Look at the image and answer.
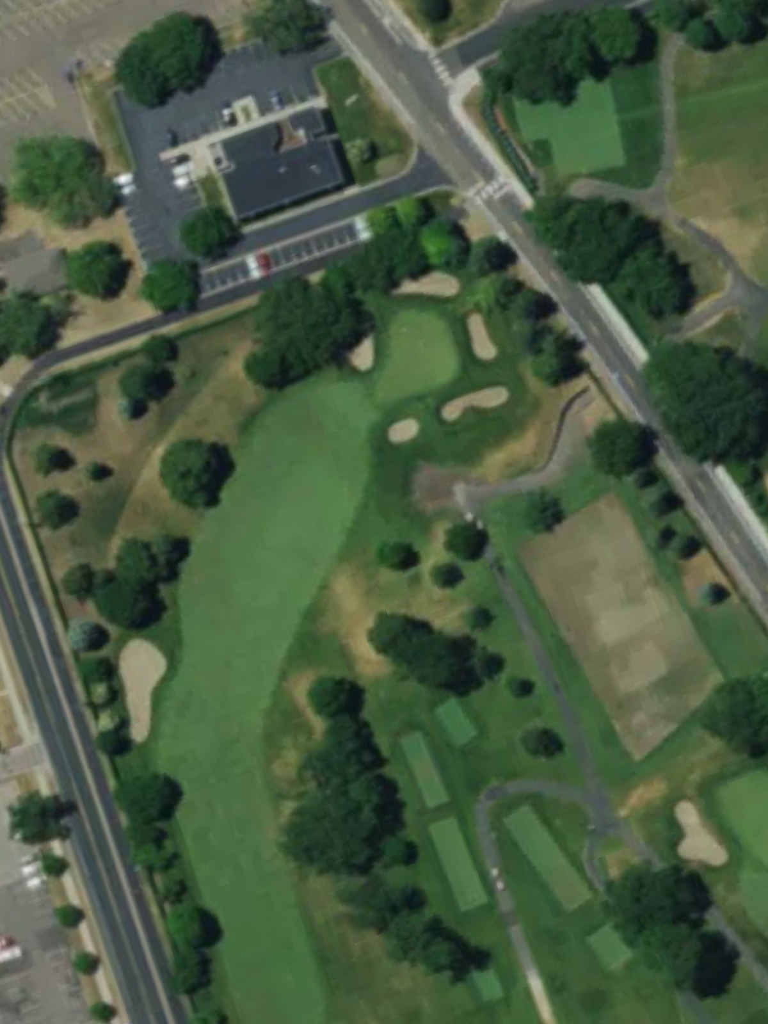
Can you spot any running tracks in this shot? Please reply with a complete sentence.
No, there isn't any running track down there.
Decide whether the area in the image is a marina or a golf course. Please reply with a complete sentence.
It's a golf course.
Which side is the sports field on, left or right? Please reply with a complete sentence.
You can find the sports field on the right side of the picture.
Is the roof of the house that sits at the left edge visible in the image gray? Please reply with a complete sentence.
Yes, the roof of the house that sits at the left edge is indeed gray.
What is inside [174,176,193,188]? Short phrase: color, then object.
white vehicle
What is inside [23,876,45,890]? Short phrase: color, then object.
white vehicle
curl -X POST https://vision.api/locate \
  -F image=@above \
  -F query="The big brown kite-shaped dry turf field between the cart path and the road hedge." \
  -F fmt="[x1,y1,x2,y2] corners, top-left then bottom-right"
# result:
[517,493,723,760]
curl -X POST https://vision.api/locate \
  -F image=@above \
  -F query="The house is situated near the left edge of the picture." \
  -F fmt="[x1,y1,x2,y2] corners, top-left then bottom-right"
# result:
[0,228,68,302]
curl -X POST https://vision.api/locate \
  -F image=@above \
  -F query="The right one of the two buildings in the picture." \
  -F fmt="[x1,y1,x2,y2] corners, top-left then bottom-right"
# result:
[208,105,343,217]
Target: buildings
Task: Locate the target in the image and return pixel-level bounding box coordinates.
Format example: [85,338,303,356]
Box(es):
[208,105,343,217]
[0,228,68,302]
